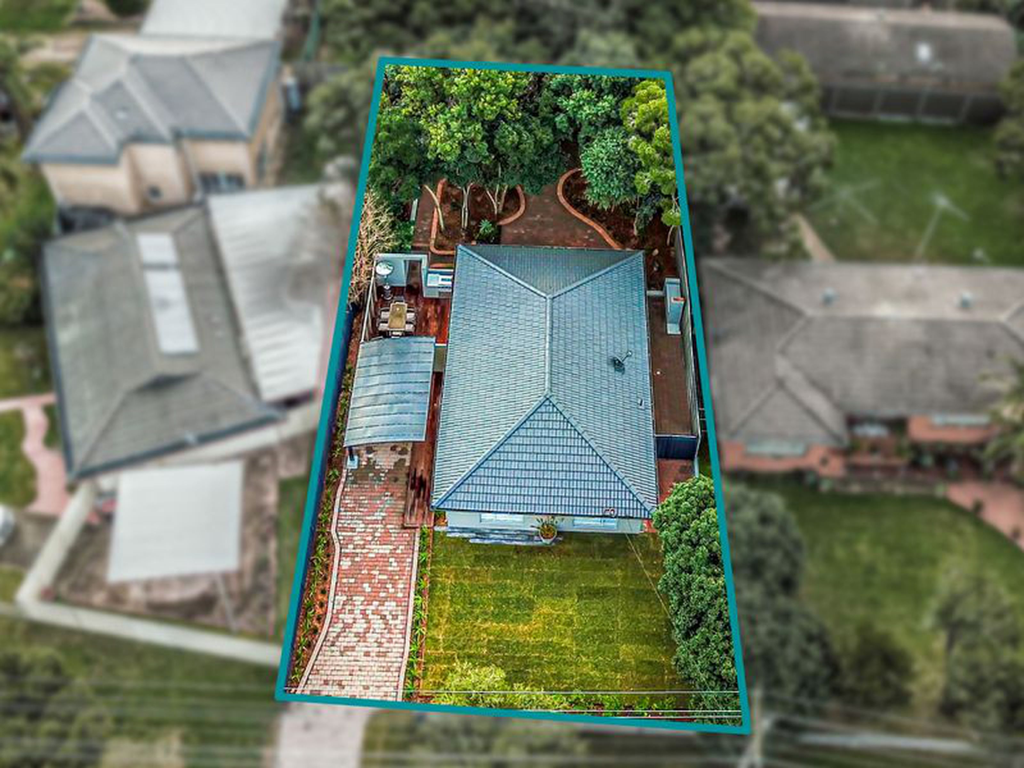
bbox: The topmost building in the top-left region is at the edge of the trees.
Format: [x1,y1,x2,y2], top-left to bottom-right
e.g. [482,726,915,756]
[19,37,289,223]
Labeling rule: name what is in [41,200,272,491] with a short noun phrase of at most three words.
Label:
house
